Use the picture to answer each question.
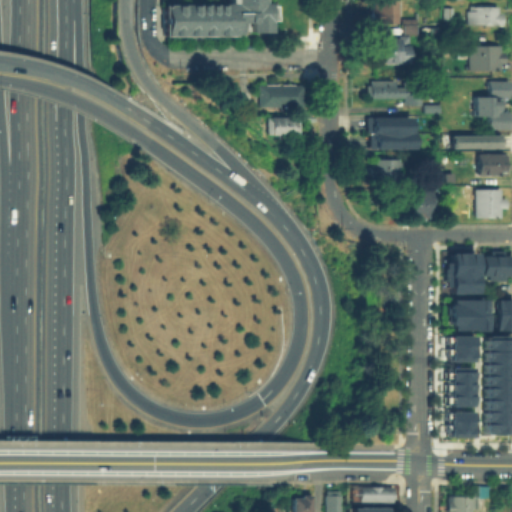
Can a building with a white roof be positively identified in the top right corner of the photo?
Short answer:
Yes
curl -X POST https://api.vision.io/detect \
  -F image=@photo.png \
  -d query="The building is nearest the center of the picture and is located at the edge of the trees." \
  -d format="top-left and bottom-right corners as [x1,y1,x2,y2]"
[268,118,302,136]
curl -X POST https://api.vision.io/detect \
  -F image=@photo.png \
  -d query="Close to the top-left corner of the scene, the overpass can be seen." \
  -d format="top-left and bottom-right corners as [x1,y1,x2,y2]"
[0,50,118,125]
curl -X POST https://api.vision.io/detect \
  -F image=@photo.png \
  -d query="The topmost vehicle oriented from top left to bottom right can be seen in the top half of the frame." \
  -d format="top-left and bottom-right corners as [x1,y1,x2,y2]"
[229,171,248,188]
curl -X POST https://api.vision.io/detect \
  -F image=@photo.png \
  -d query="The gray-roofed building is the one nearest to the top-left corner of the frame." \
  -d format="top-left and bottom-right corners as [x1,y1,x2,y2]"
[170,0,282,38]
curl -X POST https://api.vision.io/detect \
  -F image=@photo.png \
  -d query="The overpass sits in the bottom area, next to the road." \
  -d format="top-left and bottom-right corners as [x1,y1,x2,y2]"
[0,441,322,484]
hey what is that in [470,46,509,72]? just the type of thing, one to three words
house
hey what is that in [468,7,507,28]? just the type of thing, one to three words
house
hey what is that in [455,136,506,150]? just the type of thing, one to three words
building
